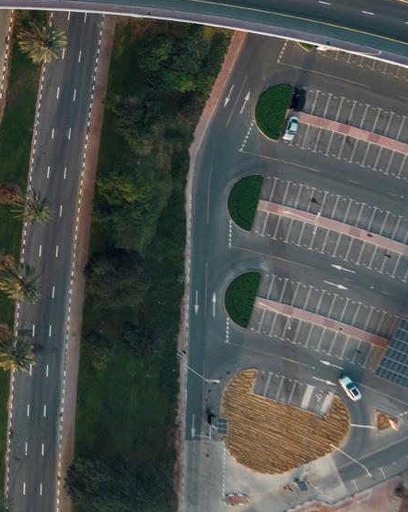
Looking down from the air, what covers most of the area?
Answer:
paved ground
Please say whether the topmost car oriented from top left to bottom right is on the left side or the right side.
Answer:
right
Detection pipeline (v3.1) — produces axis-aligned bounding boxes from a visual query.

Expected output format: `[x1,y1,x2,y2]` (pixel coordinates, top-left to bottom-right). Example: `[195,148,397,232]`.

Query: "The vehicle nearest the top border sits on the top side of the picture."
[293,88,308,111]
